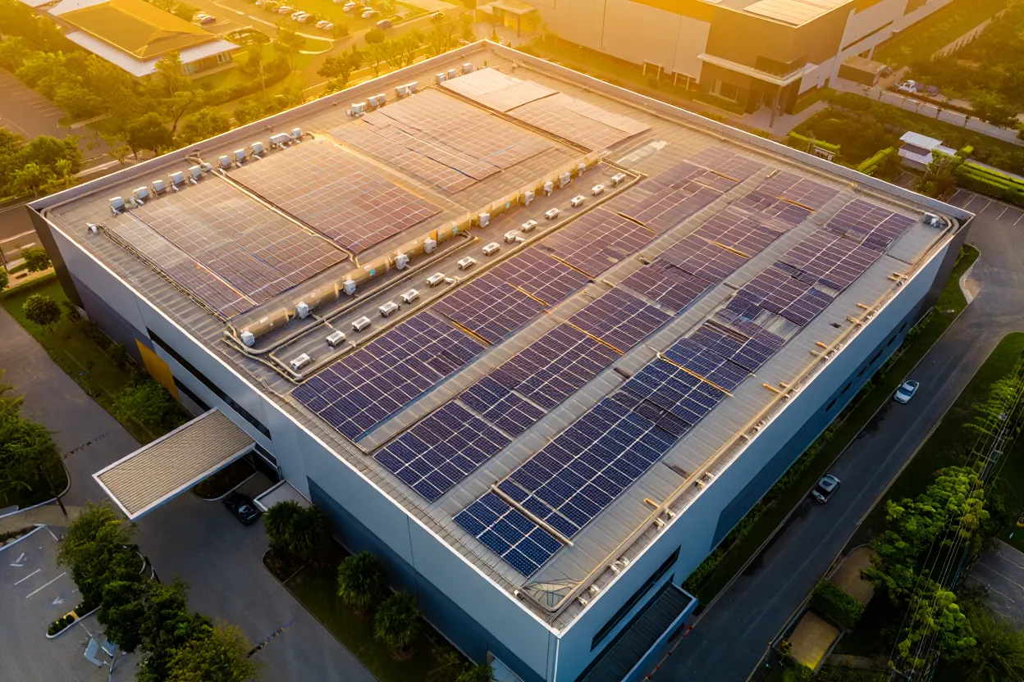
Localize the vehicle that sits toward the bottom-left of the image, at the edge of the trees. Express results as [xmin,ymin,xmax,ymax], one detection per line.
[217,493,263,531]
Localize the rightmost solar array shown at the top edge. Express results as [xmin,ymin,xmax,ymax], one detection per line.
[744,0,838,25]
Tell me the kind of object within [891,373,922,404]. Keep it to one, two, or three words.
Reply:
car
